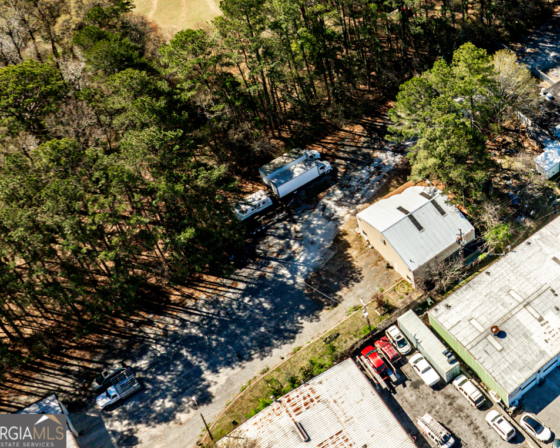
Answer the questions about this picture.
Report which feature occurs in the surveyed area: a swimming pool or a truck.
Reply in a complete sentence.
The image shows a truck.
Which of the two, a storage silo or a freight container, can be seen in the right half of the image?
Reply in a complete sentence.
The feature located in the right half of the image is a freight container.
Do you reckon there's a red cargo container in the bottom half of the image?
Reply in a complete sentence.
No, no red cargo container appears in the bottom half of the image.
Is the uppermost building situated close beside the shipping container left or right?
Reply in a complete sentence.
The uppermost building situated close beside the shipping container sits on the right side.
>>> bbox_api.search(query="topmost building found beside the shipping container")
[354,182,477,285]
